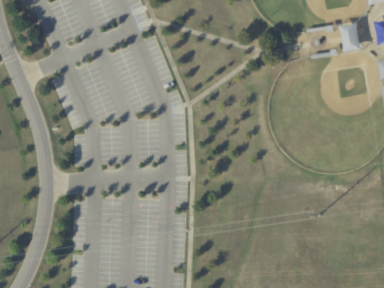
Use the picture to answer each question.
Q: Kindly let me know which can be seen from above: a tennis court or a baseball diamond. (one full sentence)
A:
I can see a baseball diamond in this picture.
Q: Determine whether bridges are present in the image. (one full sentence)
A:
No, no bridge is visible in the view.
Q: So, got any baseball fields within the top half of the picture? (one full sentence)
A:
Yes, a baseball field shows up within the top half of the picture.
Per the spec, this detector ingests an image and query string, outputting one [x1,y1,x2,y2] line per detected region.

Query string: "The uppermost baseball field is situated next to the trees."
[253,0,370,32]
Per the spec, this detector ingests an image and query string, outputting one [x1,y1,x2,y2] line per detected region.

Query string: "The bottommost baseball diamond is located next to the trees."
[270,51,384,173]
